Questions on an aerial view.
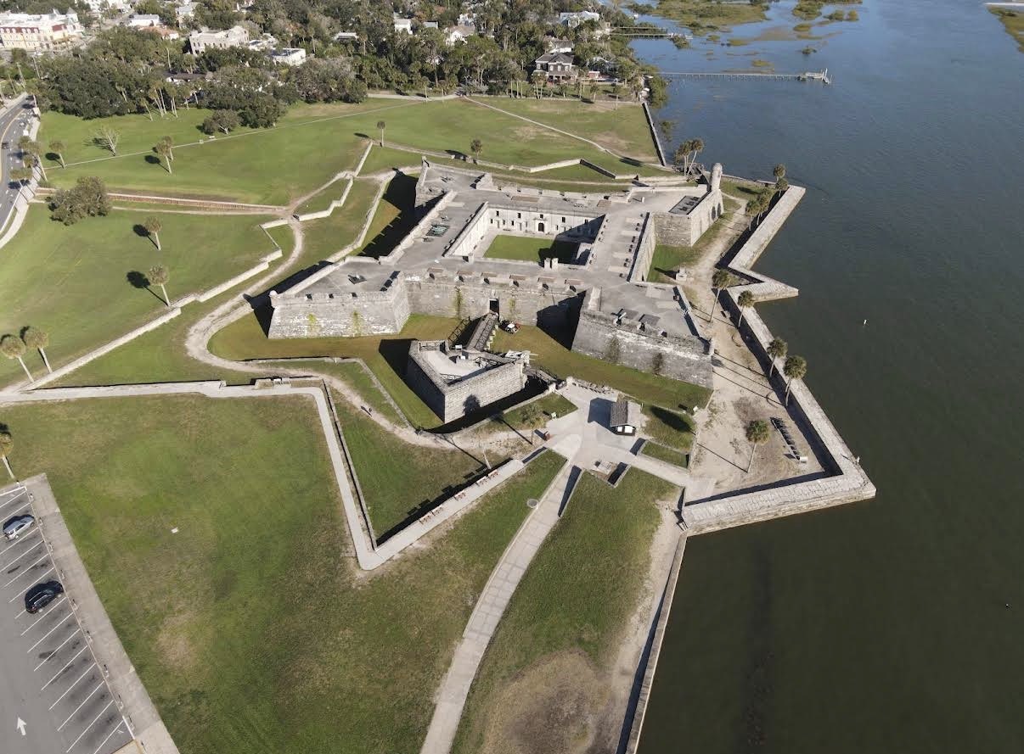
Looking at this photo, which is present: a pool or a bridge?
bridge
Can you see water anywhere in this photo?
Yes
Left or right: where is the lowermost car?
left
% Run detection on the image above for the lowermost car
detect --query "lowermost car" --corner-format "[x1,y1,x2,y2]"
[22,584,64,612]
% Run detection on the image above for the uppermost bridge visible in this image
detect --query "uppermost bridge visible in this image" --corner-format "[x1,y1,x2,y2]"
[469,304,503,356]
